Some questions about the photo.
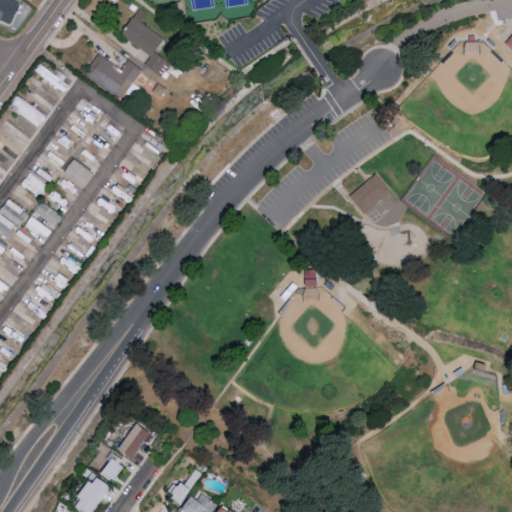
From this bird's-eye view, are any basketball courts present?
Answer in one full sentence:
Yes, there's a basketball court down there.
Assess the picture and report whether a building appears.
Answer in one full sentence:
Yes, there's a building down there.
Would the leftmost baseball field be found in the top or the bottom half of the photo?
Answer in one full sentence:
You can find the leftmost baseball field in the bottom half.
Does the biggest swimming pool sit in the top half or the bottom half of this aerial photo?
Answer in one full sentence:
It is in the bottom half that the biggest swimming pool appears.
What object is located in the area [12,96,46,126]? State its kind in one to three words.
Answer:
house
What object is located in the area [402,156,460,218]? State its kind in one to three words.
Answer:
basketball court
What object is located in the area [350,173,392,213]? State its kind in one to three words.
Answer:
building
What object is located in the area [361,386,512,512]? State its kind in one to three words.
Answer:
baseball field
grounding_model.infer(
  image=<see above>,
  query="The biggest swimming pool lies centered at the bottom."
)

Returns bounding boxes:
[202,474,230,496]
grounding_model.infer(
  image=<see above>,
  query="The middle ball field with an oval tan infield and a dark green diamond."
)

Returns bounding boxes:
[236,291,398,411]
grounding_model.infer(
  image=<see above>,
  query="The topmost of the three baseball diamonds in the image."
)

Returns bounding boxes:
[400,40,512,159]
